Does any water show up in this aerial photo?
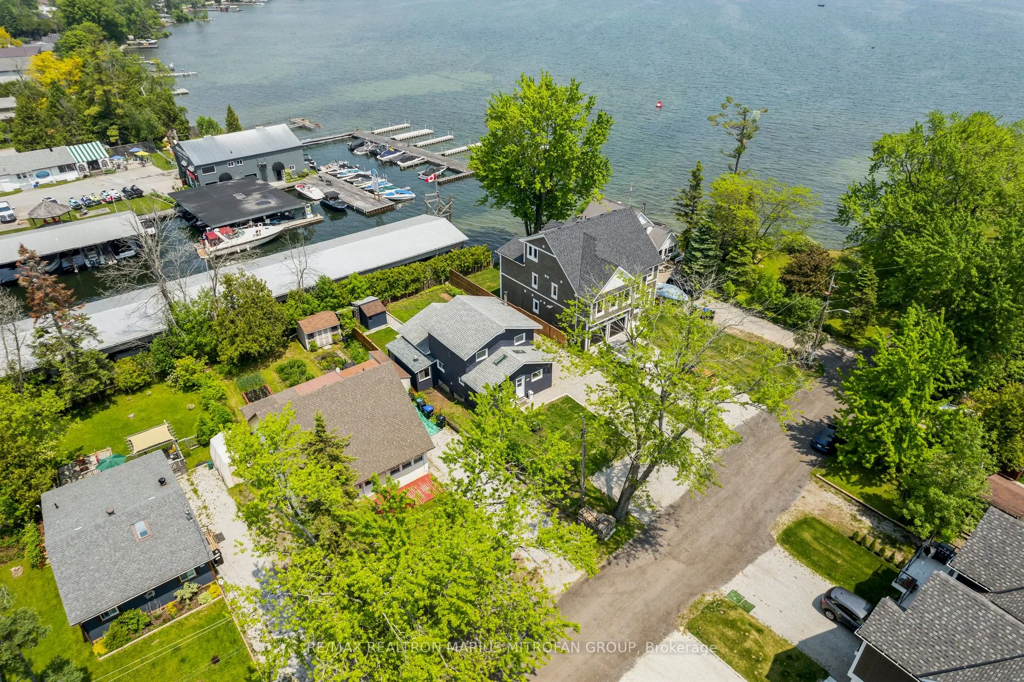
Yes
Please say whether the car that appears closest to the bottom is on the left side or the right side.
right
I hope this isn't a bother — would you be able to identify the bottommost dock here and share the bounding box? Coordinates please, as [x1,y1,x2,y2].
[193,214,328,255]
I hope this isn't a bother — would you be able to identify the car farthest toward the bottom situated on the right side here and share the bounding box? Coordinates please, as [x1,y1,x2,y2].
[816,585,872,638]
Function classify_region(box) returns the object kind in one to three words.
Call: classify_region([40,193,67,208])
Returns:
car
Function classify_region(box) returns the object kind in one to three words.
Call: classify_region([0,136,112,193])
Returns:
building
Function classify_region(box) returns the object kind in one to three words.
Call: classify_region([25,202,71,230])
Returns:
gazebo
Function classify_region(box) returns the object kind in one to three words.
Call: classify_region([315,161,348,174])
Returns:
boat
